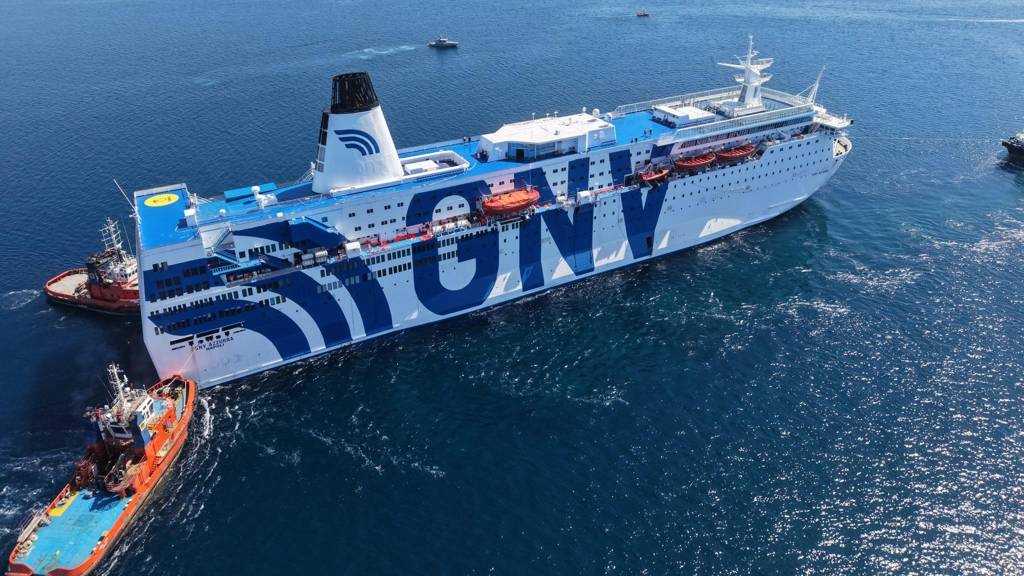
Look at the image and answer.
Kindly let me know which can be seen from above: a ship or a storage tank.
ship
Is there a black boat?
Yes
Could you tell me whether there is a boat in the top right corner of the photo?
Yes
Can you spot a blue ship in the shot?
Yes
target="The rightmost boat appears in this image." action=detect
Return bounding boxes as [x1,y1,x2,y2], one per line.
[1003,130,1024,155]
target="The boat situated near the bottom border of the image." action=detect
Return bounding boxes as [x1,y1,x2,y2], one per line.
[3,360,196,576]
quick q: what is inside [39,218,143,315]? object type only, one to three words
boat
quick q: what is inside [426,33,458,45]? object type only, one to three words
boat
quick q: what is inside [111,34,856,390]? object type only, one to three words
ship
